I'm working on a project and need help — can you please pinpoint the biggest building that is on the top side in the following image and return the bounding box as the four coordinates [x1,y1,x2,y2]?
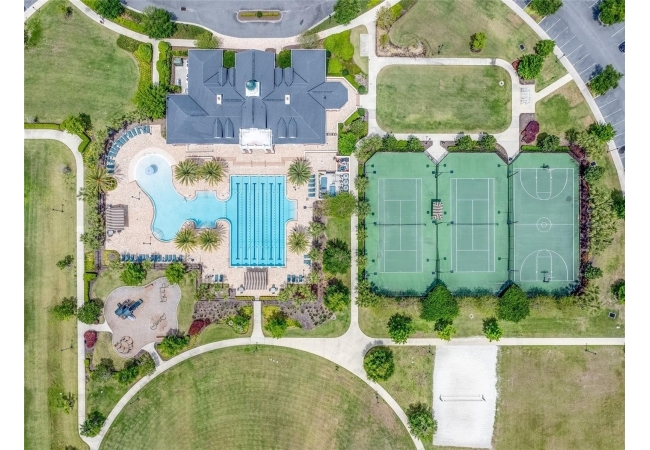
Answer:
[166,46,348,152]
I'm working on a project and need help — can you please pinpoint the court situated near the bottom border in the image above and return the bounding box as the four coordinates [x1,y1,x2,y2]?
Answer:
[433,345,498,448]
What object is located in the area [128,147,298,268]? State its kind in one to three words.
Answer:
swimming pool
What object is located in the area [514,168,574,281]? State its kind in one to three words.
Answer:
basketball court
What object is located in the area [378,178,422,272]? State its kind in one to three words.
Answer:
tennis court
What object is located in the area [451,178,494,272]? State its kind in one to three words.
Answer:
tennis court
